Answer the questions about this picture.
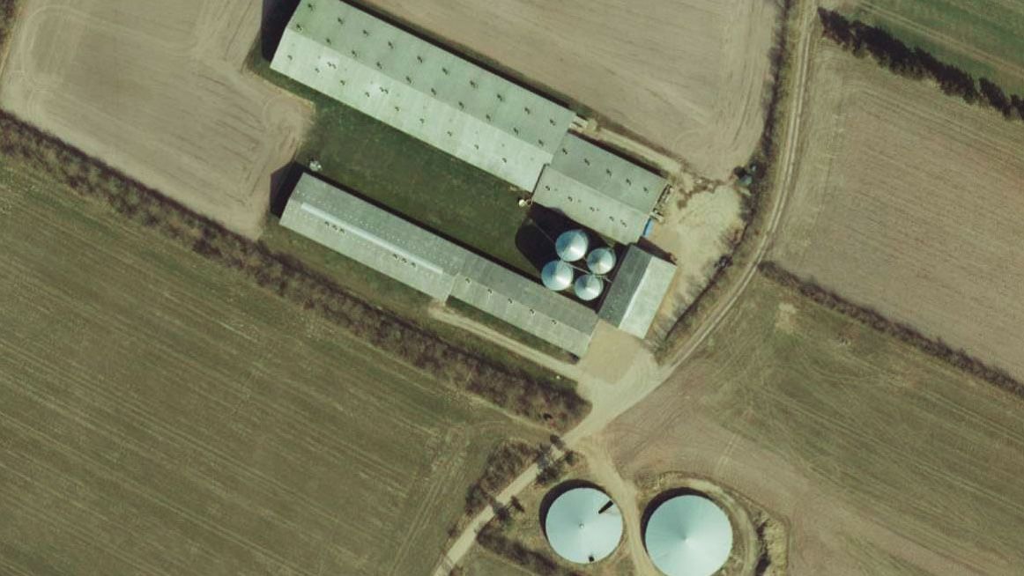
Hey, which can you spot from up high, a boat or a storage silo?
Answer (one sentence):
The one in the frame is a storage silo.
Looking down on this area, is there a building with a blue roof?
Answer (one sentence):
No, this view has no building with a blue roof in it.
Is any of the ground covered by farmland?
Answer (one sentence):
Yes, farmland can be seen from above here.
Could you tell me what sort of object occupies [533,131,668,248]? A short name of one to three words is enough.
barn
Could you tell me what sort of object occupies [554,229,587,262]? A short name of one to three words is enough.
silo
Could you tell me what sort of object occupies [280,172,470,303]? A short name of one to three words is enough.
barn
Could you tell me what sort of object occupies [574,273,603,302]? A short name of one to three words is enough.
silo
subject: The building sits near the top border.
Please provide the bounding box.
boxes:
[271,0,573,193]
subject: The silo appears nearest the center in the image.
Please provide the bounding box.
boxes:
[540,259,574,292]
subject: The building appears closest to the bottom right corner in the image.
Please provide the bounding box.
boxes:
[598,246,677,338]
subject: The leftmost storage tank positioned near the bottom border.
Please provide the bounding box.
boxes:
[544,487,622,565]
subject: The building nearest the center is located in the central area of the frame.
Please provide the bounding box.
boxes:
[449,254,599,356]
